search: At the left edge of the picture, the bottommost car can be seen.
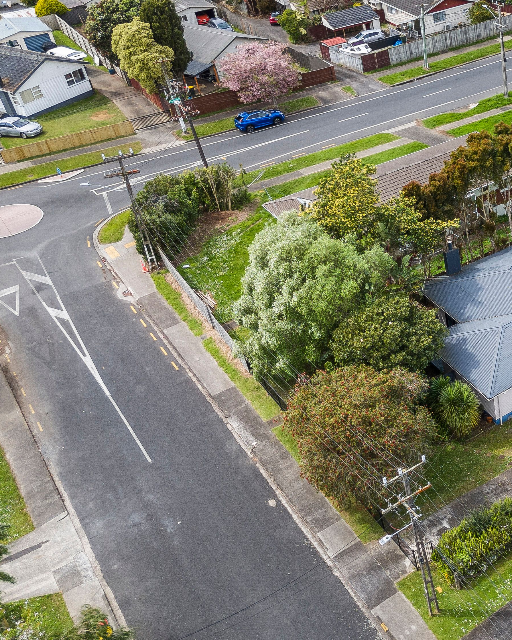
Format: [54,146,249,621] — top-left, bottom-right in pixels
[0,119,39,140]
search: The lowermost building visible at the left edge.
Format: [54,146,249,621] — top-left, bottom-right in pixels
[0,38,94,116]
